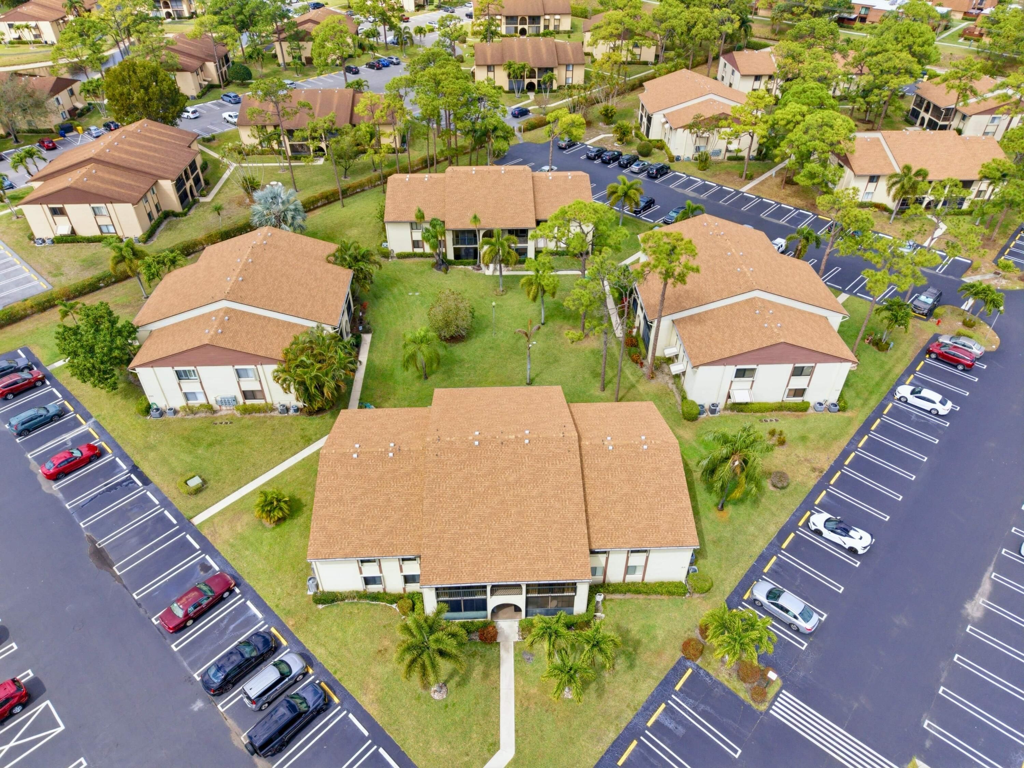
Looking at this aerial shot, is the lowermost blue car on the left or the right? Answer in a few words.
left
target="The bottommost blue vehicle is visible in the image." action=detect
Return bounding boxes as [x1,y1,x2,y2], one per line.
[244,684,325,761]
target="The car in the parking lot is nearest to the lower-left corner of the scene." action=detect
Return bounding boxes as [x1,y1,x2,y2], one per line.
[0,670,39,716]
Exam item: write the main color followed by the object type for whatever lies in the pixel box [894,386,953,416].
white car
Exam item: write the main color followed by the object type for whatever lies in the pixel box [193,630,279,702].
blue car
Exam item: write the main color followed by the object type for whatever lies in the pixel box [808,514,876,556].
white car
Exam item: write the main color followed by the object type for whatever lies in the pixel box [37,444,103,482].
red car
